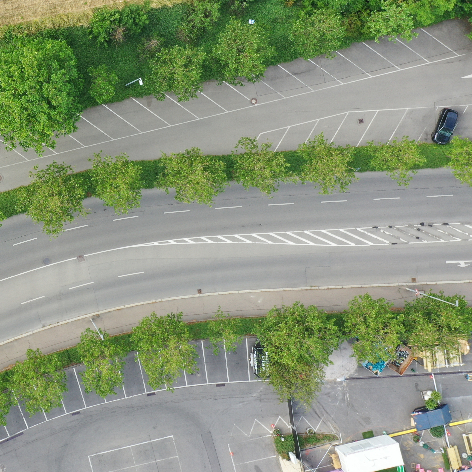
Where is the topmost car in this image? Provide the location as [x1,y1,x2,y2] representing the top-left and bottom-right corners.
[429,106,460,145]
